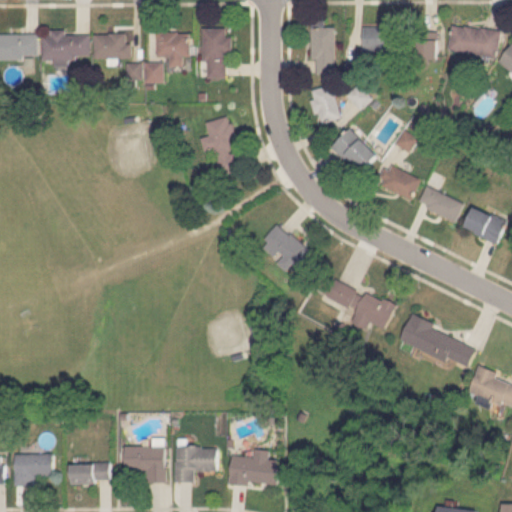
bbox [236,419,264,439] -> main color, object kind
blue swimming pool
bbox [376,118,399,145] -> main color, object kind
blue swimming pool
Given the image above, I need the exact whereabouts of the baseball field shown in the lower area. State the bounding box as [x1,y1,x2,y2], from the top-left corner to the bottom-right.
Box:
[208,310,251,360]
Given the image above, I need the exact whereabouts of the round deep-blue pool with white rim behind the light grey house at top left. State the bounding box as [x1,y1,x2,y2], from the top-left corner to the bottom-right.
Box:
[4,66,24,86]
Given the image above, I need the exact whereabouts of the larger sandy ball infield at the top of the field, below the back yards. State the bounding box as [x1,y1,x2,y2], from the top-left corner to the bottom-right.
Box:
[108,116,156,178]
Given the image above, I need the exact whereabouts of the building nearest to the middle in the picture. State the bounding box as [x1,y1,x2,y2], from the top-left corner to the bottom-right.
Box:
[264,226,306,272]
